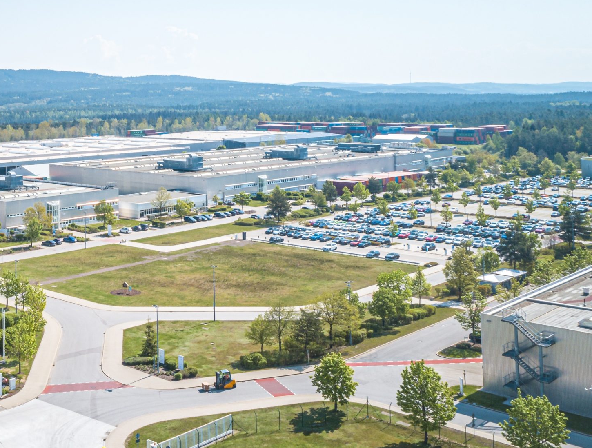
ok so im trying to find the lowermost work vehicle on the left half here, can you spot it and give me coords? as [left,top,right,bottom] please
[213,369,237,392]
